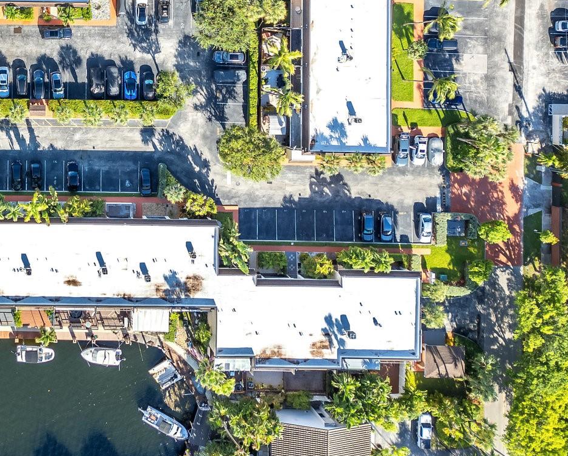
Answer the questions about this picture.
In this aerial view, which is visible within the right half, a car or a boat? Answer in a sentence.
Looking within the right half, you will find a car.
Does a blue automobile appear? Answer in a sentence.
Yes, looking at the shot, I can spot a blue automobile.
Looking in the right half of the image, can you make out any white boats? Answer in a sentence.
No, looking in the right half of the image, there is no white boat.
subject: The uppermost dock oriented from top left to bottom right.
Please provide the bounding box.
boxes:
[129,333,210,407]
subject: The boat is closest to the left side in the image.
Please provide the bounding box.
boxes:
[14,346,56,363]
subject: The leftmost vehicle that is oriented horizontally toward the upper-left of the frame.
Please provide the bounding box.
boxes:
[42,26,72,41]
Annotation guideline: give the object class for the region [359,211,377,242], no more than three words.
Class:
car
